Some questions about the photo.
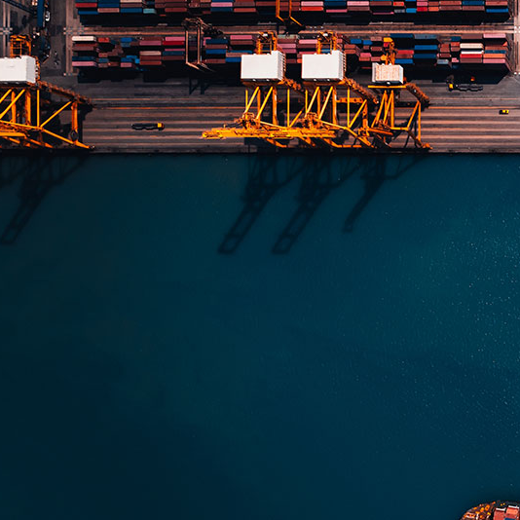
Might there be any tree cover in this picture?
No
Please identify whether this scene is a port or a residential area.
port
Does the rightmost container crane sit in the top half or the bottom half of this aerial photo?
top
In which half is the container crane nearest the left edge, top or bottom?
top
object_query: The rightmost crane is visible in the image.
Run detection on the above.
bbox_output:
[358,46,432,146]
